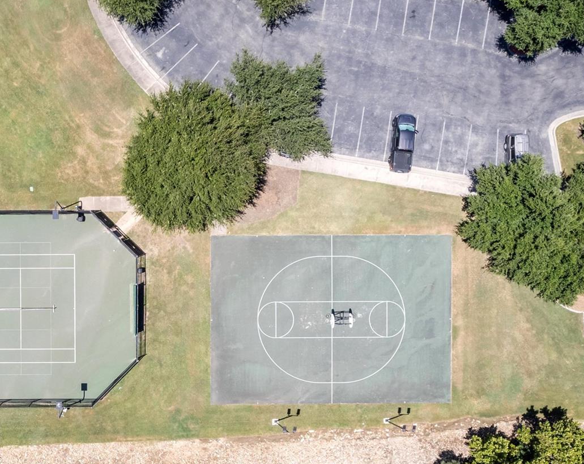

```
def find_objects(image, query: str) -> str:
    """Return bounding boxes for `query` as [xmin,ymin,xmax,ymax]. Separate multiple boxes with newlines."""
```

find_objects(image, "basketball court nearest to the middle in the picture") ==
[211,234,452,405]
